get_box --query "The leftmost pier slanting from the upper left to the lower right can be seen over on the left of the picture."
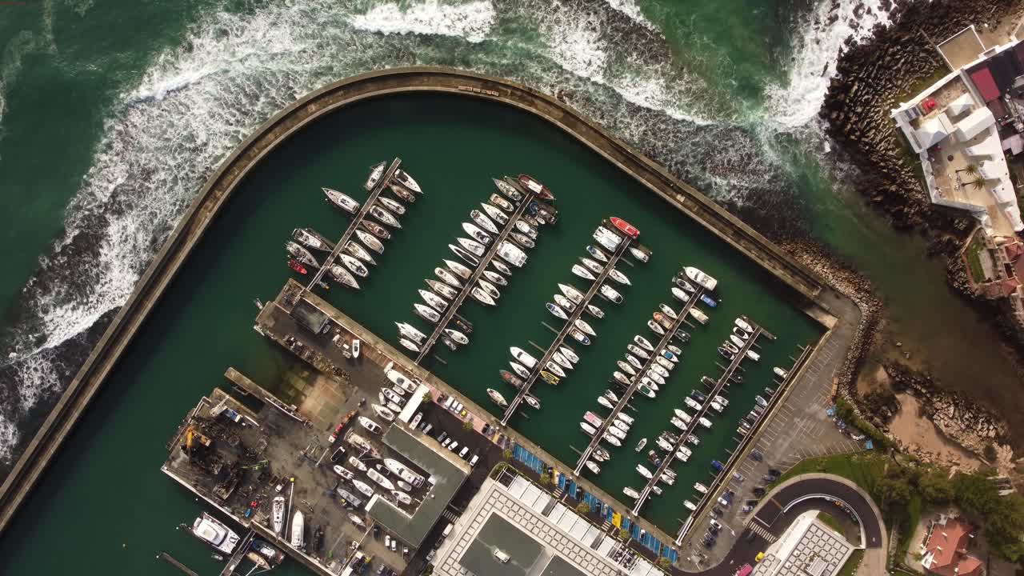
[155,551,204,576]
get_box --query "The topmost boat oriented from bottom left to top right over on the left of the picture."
[364,162,385,190]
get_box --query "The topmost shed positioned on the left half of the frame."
[289,298,330,335]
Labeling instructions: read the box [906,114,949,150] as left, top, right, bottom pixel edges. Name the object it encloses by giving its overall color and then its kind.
white tent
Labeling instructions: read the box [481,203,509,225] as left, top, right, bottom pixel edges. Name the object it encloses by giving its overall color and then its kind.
white boat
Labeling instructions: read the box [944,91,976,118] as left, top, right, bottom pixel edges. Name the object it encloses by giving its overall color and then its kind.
white tent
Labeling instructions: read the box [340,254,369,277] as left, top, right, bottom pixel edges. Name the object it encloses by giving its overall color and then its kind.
white boat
